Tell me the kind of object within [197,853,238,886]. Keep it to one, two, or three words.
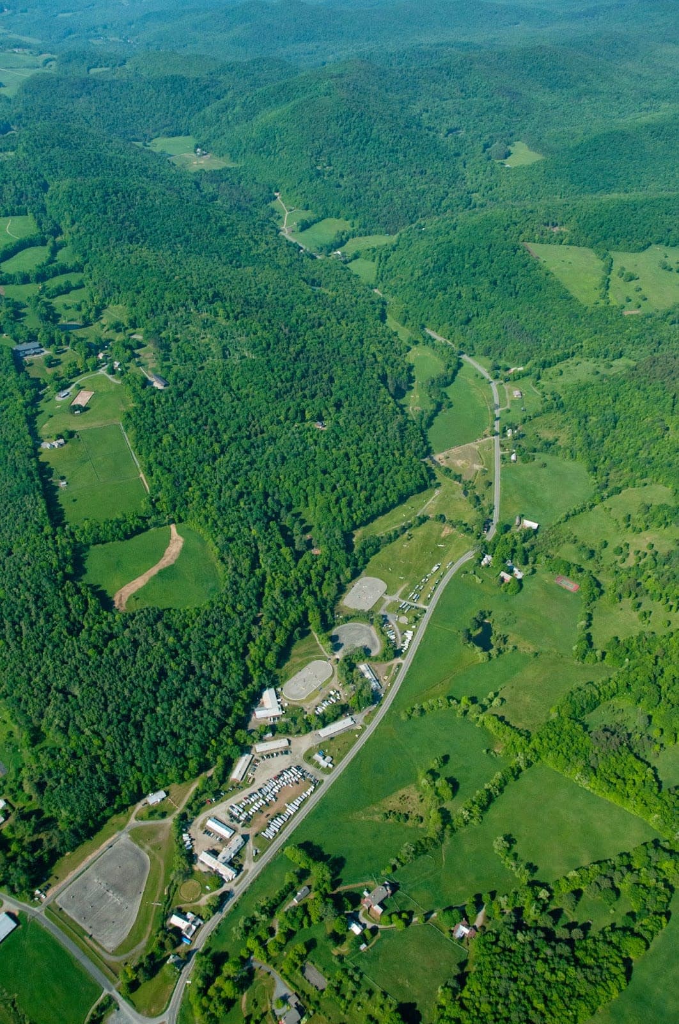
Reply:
barn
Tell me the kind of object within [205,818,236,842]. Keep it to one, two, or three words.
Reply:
barn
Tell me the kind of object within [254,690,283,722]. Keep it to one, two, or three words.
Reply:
building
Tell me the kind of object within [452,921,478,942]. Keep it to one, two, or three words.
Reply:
house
